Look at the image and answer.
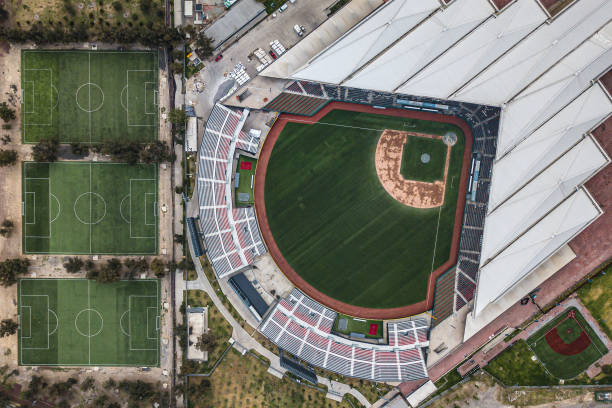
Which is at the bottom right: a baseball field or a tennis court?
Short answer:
baseball field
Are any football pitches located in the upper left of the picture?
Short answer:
Yes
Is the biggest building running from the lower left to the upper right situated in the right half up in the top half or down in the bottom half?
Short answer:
bottom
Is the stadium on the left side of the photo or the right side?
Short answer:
right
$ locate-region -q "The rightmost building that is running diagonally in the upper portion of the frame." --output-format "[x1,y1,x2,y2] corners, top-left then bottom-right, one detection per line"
[204,0,265,51]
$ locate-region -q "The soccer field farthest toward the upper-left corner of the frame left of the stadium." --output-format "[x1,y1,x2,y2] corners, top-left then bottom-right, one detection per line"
[22,50,158,143]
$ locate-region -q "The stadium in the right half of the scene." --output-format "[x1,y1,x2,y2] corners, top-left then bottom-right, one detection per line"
[198,0,612,382]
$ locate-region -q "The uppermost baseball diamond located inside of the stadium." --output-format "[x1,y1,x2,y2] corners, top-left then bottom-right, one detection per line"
[254,101,472,320]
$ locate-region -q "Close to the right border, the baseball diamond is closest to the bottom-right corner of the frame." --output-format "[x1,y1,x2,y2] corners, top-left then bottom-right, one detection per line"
[527,305,611,380]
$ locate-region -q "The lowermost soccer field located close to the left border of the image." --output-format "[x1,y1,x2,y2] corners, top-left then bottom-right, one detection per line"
[18,279,160,367]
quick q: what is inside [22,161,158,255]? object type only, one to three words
soccer field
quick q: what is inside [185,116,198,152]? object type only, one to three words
building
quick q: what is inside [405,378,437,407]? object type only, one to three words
building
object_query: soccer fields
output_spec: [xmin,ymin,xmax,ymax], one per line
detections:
[22,161,158,255]
[18,279,160,367]
[22,50,158,143]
